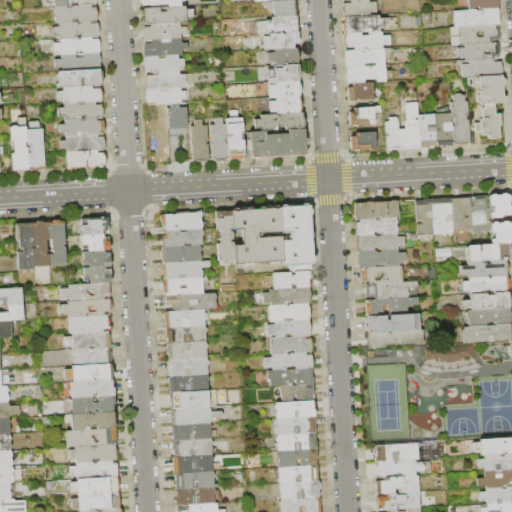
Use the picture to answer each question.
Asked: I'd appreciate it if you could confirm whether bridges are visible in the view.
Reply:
No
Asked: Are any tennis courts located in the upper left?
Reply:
No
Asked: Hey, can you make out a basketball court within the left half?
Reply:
No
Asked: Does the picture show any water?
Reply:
No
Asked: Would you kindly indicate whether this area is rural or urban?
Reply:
urban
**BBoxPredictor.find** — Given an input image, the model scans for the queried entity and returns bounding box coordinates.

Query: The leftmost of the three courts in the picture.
[367,363,408,441]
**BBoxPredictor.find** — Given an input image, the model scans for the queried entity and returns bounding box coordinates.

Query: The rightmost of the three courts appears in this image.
[477,374,512,436]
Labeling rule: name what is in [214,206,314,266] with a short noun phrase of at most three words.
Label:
building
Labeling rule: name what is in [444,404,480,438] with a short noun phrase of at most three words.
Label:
basketball court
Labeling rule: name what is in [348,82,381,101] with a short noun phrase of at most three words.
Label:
house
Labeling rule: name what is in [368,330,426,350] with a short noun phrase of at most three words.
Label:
house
